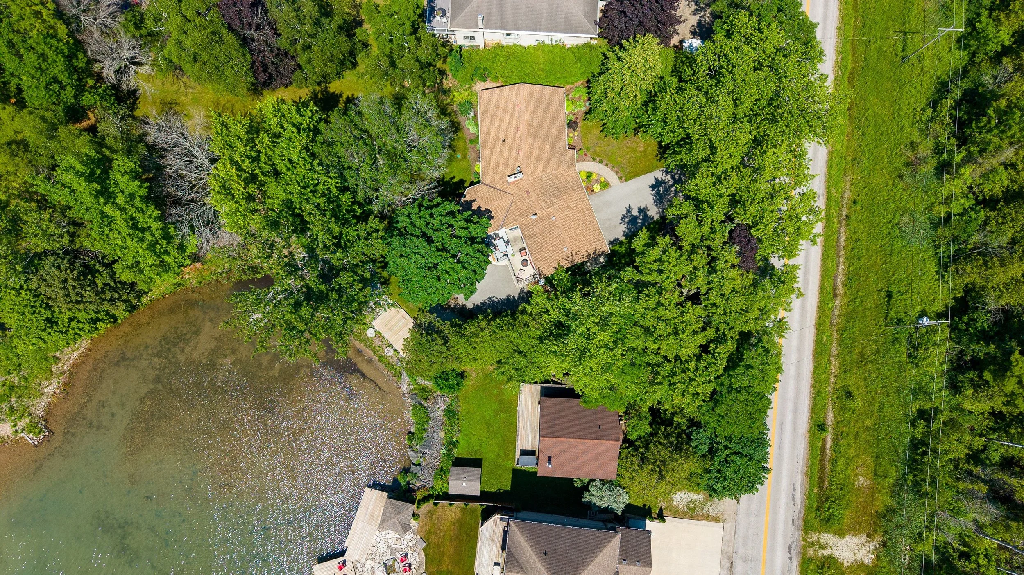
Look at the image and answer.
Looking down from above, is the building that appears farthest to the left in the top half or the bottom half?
bottom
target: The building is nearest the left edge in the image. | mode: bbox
[378,494,417,536]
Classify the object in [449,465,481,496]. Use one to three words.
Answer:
shed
